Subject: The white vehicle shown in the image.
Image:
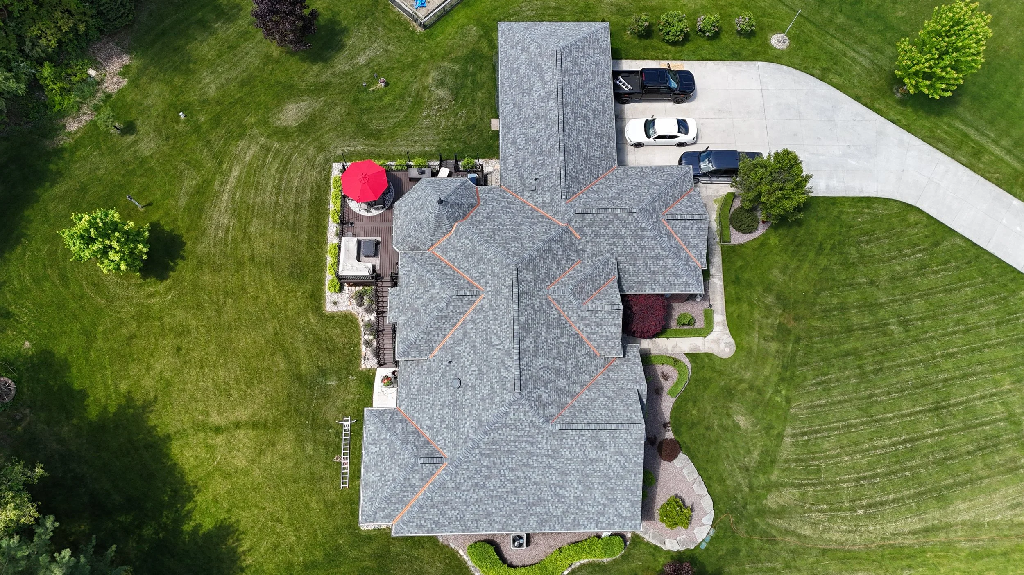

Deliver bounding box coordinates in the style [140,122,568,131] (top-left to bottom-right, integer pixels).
[624,114,698,147]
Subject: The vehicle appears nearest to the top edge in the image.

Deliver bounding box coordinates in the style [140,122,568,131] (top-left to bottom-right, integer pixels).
[613,65,697,103]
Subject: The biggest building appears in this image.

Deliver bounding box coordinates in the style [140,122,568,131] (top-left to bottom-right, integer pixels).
[356,19,710,539]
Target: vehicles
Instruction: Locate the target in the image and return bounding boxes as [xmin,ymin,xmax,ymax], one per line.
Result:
[675,145,765,183]
[624,114,698,147]
[613,65,697,103]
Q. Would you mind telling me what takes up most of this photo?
grass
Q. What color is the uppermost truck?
black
